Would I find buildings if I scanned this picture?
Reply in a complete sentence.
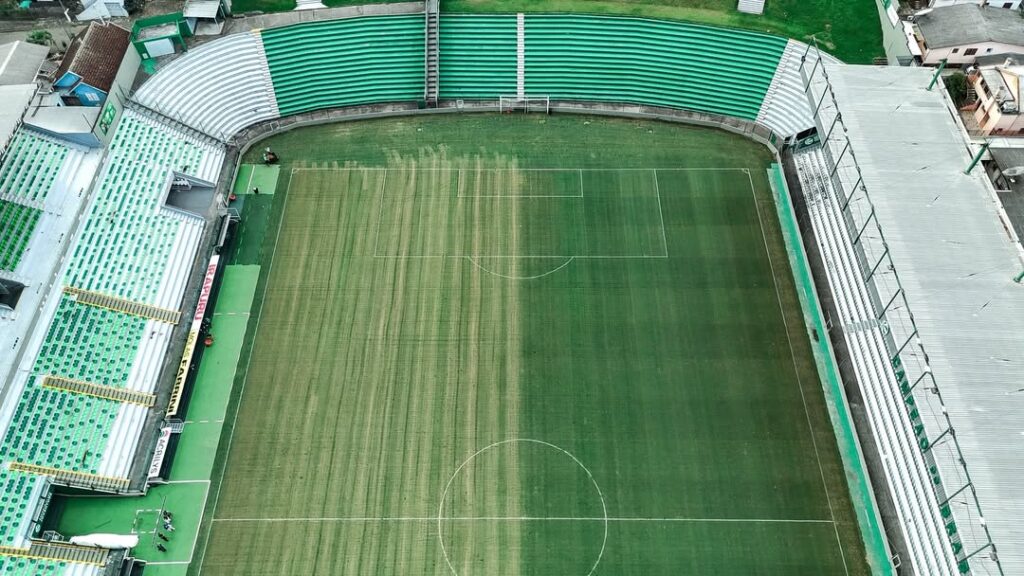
Yes, the photo shows a building.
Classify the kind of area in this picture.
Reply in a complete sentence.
The picture captures a sports ground.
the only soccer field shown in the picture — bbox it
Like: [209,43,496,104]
[185,111,872,576]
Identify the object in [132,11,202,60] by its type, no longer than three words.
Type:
building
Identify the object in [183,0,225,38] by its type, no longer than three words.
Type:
shed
